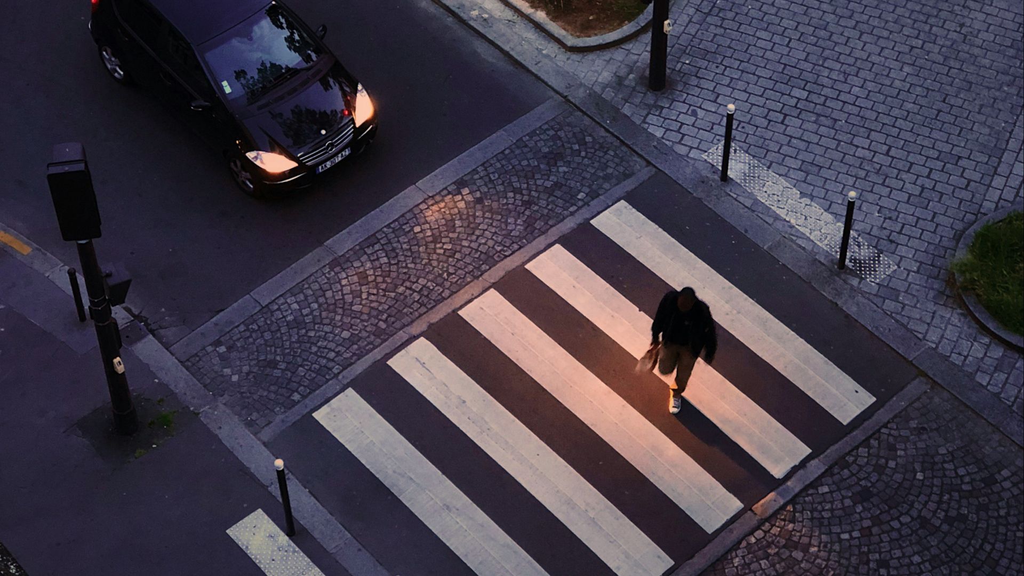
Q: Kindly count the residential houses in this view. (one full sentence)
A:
There are no residential houses in this view.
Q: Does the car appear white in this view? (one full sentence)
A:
No, the car is actually black.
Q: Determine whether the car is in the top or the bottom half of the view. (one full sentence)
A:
Seen from above, the car lies in the top half of the view.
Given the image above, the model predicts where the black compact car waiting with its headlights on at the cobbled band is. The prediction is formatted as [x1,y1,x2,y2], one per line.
[98,0,375,198]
